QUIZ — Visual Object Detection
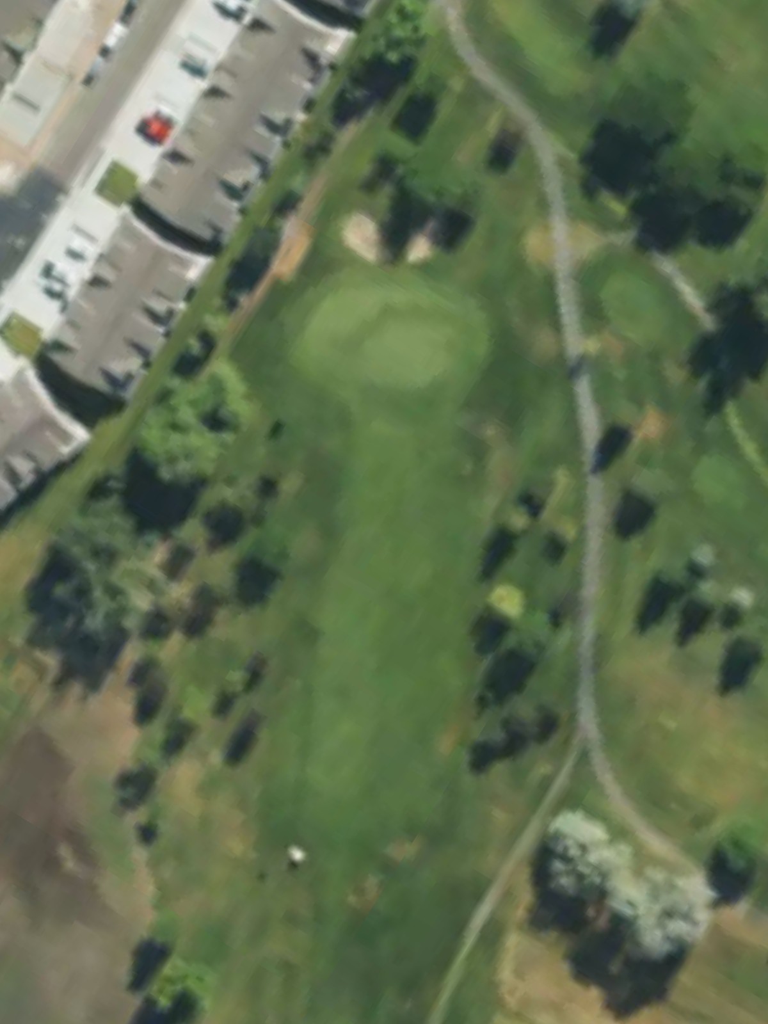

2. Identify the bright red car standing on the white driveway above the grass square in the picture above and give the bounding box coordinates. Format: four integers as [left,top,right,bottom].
[138,112,173,142]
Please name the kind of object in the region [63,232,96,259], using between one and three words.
car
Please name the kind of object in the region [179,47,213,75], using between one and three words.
car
